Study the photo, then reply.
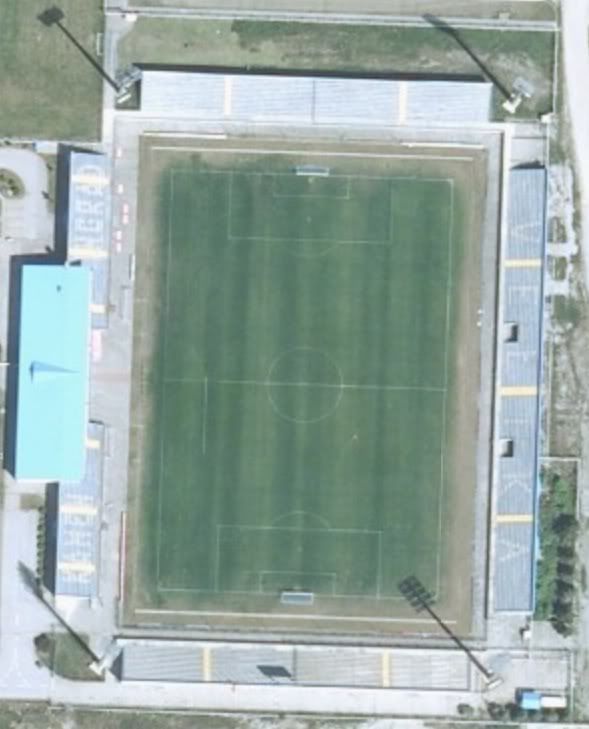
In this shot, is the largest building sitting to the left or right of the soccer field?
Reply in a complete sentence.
The largest building is to the left of the soccer field.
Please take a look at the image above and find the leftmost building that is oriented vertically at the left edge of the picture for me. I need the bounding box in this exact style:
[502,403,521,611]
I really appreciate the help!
[15,264,90,481]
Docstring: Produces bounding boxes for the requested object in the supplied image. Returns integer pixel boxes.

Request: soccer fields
[124,136,486,637]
